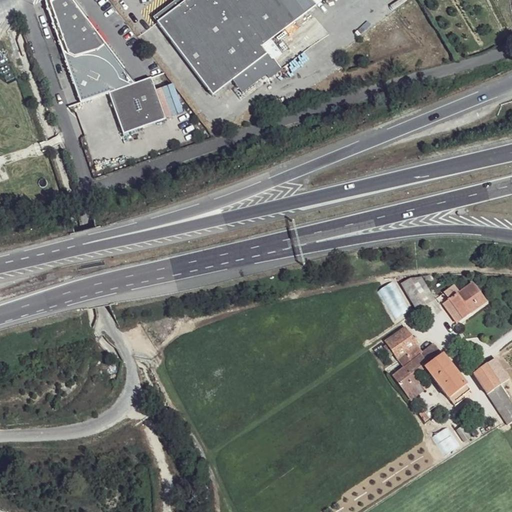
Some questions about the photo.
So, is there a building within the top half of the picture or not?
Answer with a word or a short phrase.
Yes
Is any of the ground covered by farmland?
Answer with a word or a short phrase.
Yes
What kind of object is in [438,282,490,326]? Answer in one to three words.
house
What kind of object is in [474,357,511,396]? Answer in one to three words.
barn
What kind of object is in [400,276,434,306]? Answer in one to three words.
shed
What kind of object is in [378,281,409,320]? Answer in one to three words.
greenhouse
